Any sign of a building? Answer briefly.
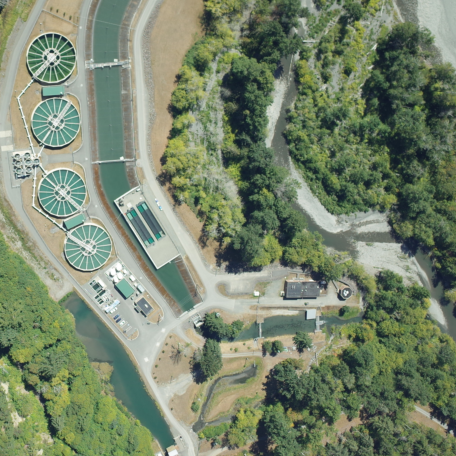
Yes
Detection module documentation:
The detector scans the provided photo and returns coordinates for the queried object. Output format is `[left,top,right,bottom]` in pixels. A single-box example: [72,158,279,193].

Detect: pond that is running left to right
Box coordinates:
[195,312,362,341]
